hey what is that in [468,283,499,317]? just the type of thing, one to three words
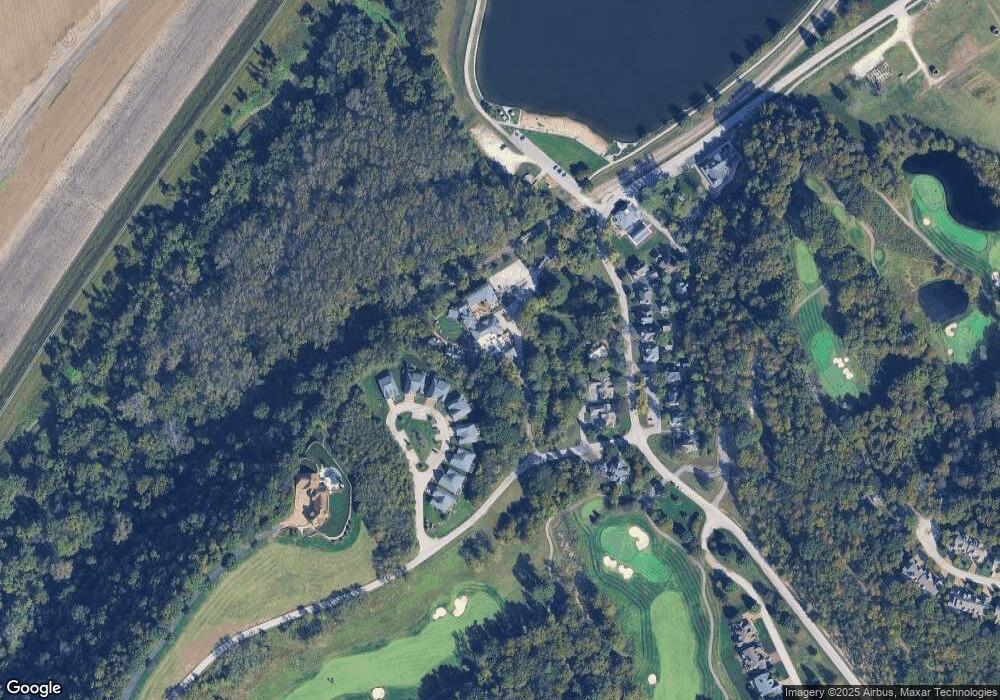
house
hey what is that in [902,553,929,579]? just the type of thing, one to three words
building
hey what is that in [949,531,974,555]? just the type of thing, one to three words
building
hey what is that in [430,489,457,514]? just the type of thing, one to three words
house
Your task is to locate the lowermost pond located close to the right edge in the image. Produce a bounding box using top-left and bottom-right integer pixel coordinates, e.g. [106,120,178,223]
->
[919,279,969,322]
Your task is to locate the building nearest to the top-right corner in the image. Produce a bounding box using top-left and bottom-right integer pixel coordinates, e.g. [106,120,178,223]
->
[702,153,734,185]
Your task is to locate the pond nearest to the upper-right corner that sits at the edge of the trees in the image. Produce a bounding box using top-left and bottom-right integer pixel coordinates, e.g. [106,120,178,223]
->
[901,149,1000,231]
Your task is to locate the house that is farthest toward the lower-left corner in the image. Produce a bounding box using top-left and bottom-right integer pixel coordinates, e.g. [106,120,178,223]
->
[301,470,332,527]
